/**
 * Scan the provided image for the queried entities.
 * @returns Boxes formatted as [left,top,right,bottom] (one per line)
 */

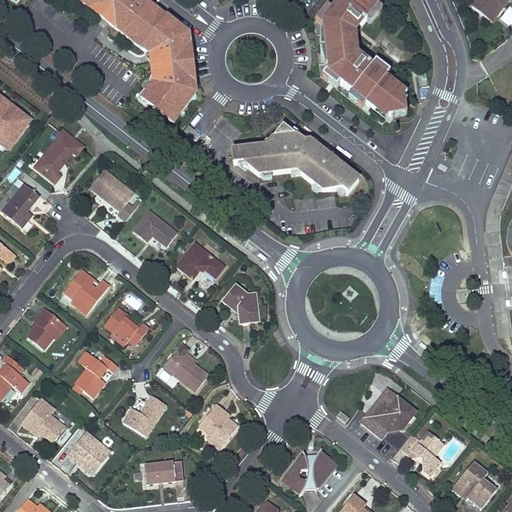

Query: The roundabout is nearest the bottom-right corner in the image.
[286,247,399,360]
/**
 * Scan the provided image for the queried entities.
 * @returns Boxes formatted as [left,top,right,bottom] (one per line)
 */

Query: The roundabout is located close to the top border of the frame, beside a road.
[210,18,292,100]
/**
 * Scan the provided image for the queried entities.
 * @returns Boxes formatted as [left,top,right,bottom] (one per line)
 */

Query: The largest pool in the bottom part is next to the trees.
[438,437,465,468]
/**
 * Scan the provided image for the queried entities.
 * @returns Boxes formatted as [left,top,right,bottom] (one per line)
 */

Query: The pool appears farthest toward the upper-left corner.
[4,165,24,185]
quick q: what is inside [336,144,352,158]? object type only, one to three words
vehicle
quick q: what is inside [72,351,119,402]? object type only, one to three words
house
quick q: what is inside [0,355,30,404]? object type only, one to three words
house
